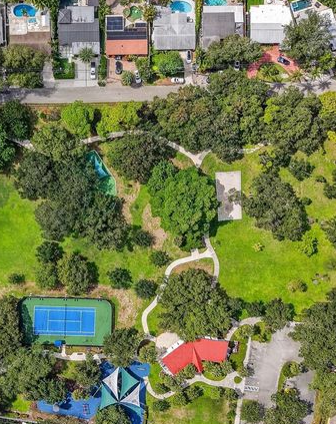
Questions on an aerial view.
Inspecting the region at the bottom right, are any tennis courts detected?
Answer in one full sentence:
No, no tennis court is visible at the bottom right.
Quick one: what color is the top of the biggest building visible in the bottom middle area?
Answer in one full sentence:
The roof of the biggest building visible in the bottom middle area is red.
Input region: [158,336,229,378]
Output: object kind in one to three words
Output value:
building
